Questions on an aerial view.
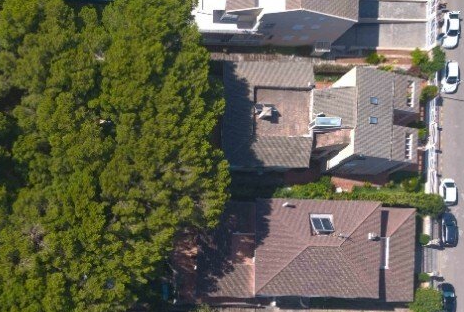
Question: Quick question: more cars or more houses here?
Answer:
cars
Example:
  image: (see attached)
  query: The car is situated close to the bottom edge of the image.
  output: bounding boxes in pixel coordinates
[438,283,459,312]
